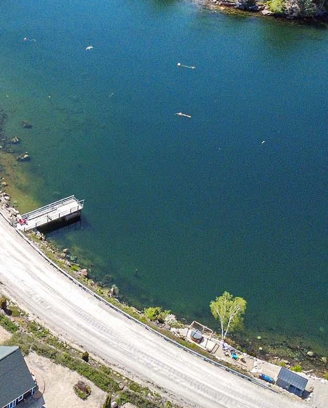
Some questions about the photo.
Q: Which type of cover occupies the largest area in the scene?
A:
water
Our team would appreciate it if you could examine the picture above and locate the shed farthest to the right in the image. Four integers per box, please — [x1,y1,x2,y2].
[272,367,302,401]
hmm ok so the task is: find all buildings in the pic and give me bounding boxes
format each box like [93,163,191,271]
[0,341,37,408]
[272,367,302,401]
